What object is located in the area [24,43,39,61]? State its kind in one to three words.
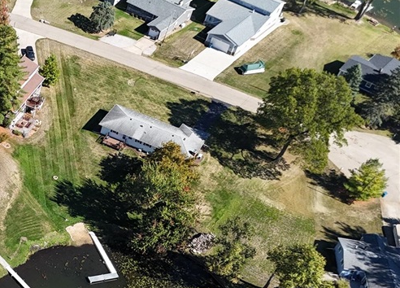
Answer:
car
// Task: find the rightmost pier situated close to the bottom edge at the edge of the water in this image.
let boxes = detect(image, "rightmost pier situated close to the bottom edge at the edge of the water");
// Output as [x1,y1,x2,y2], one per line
[87,231,120,284]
